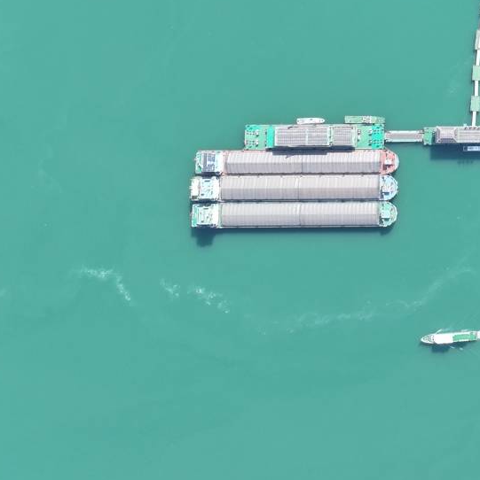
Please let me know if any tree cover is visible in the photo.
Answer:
No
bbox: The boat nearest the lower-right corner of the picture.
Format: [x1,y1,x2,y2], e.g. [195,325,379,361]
[421,330,479,346]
